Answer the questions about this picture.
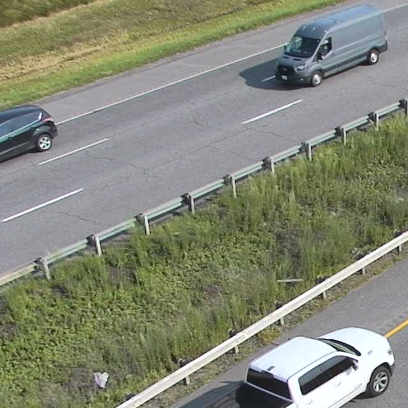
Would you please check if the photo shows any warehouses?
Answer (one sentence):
No, there appears to be no warehouse in this shot.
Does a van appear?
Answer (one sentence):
Yes, the frame does contain a van.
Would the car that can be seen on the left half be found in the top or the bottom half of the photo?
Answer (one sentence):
The top half of the photo is where the car that can be seen on the left half is.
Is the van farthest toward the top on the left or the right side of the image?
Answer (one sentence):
The van farthest toward the top is on the right side of the image.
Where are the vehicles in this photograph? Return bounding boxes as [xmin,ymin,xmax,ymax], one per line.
[270,2,389,86]
[201,328,397,408]
[0,103,56,160]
